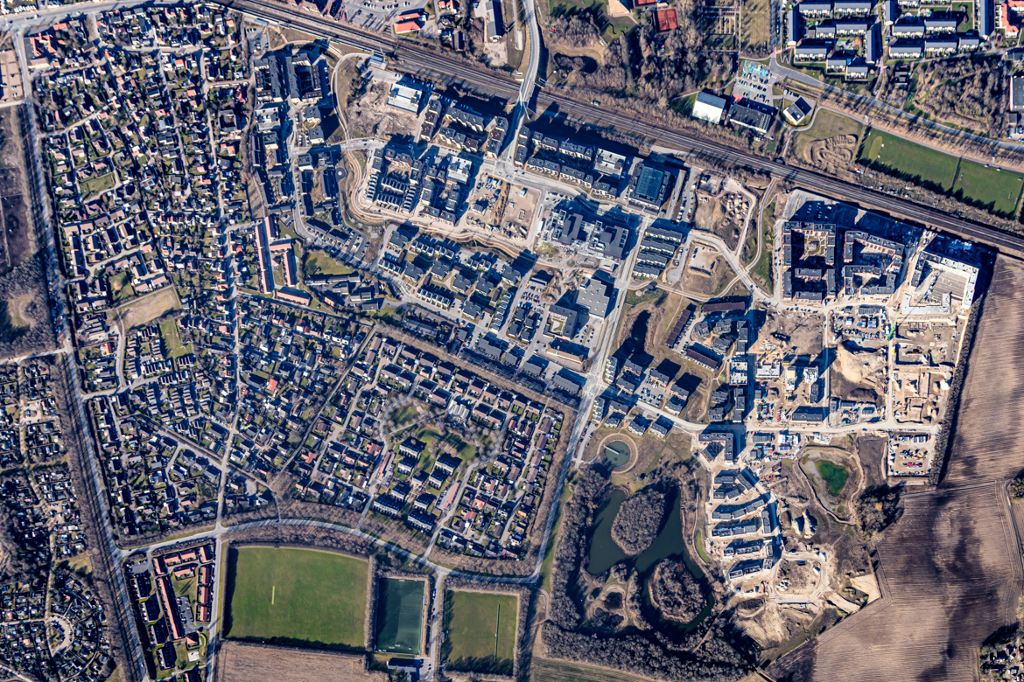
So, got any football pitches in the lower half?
Yes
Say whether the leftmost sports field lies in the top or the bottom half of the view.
bottom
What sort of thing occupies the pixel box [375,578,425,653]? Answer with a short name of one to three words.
soccer field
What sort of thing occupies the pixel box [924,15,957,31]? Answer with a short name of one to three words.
building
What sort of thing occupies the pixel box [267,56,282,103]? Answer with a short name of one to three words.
building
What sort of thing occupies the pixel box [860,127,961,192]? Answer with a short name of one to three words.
sports field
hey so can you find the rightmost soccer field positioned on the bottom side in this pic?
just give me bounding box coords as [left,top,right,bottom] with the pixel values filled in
[446,590,518,673]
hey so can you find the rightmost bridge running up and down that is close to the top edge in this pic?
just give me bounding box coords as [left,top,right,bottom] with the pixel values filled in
[497,0,549,161]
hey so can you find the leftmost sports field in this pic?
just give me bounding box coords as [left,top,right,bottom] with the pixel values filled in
[225,546,369,649]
